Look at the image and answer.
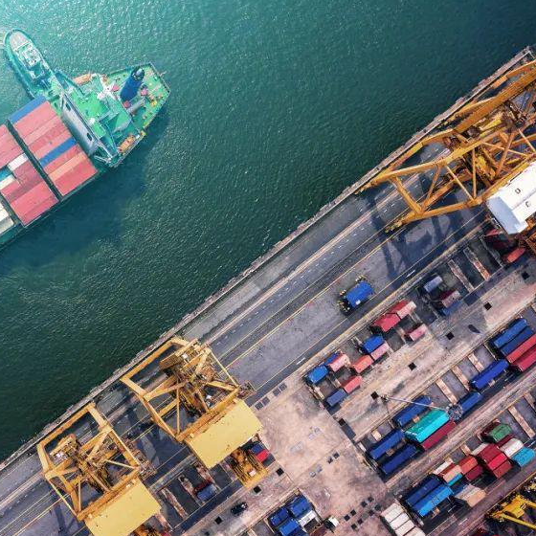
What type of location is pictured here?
port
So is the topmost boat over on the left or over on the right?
left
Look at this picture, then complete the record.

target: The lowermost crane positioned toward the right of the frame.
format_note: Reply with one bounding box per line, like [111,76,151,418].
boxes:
[489,483,536,526]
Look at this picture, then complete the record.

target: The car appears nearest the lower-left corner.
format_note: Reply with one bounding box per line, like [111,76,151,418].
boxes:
[230,501,247,516]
